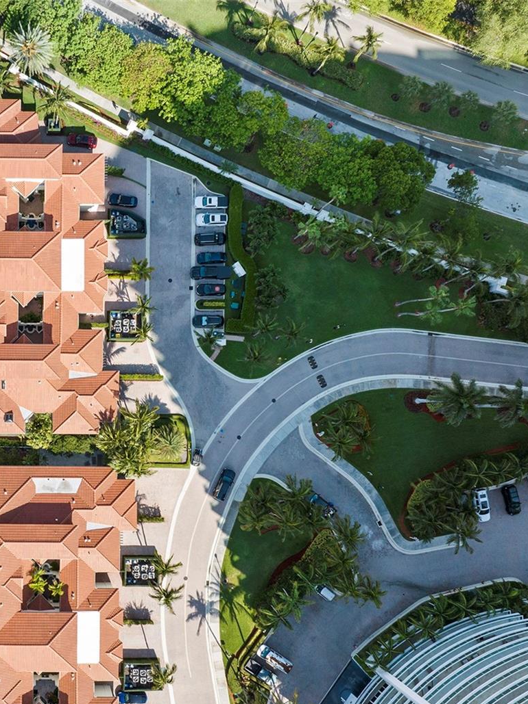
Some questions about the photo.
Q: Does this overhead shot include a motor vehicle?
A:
Yes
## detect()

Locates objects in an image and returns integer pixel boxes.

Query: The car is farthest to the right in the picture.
[499,484,521,514]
